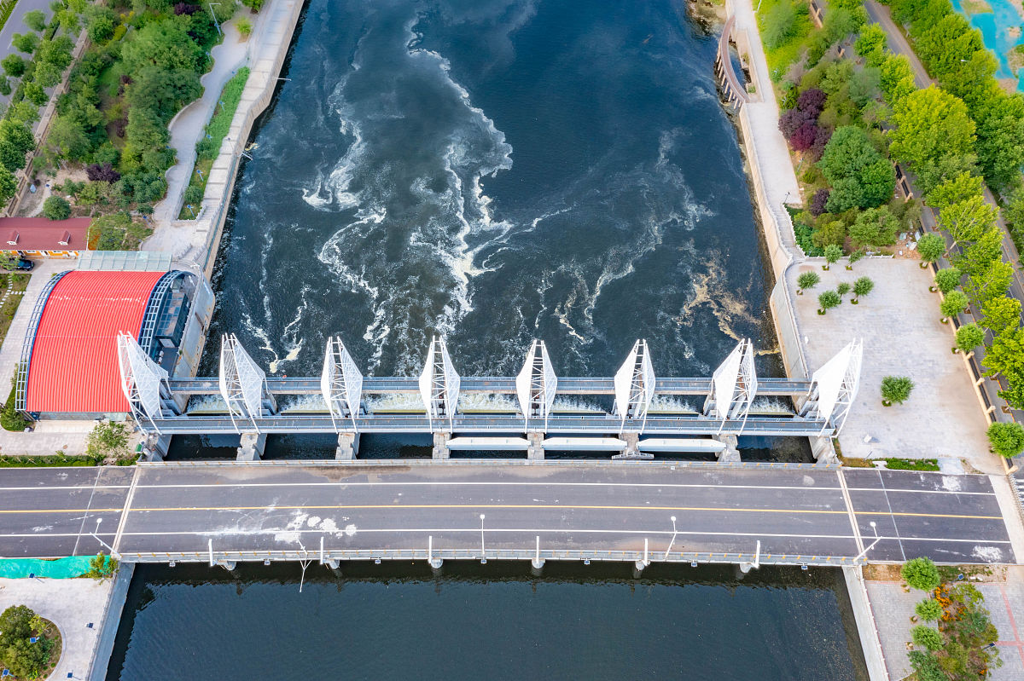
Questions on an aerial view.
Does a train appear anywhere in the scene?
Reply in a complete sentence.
No, the frame has no train in it.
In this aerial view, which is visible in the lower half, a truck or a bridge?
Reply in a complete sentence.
You can see a bridge in the lower half.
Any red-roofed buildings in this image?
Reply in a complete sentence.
Yes, the photo shows a red-roofed building.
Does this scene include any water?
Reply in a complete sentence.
Yes, water can be seen from above here.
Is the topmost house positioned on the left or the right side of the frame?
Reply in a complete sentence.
The topmost house is on the left side of the image.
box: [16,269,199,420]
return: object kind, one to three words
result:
building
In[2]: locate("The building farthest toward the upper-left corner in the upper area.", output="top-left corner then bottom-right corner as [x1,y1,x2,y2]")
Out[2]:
[0,216,102,259]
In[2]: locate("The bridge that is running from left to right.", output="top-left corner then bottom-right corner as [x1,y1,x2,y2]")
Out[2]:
[109,457,867,577]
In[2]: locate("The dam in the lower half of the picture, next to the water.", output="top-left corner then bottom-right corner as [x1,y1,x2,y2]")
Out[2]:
[124,375,835,463]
